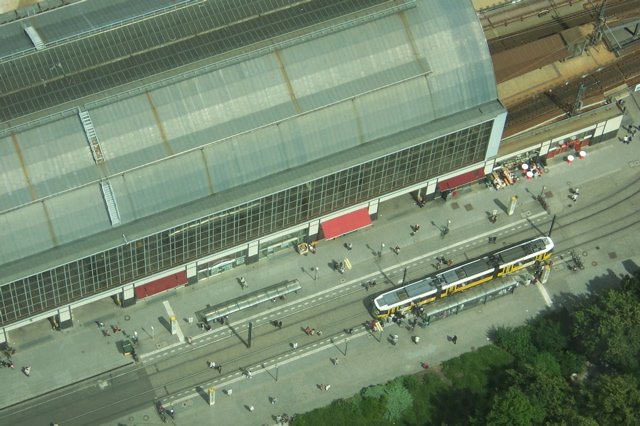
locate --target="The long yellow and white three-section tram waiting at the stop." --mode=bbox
[369,235,554,319]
